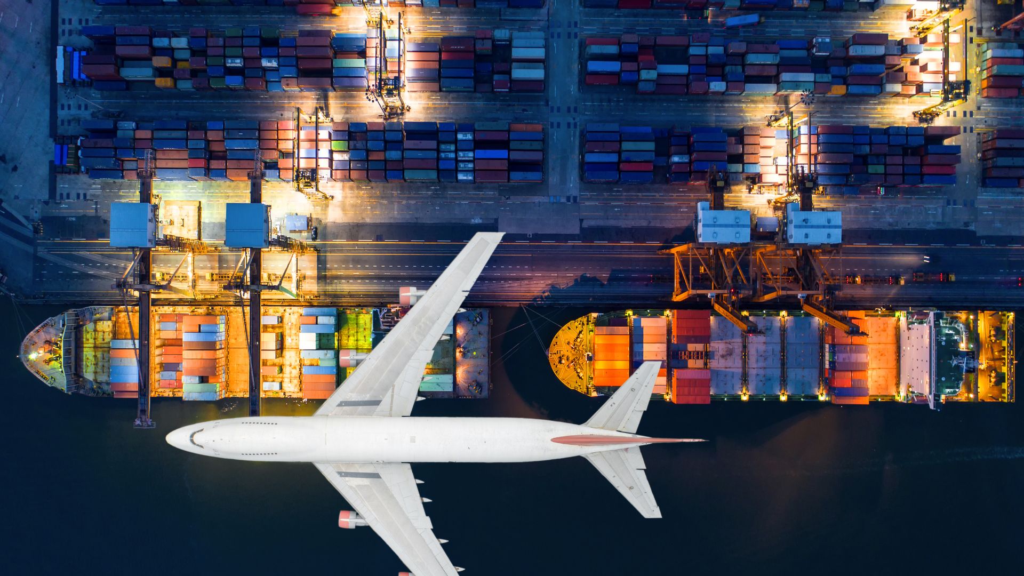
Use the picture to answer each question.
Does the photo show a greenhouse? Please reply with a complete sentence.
No, there isn't any greenhouse down there.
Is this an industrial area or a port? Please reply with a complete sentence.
It's a port.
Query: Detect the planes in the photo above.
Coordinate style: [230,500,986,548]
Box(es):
[167,232,706,576]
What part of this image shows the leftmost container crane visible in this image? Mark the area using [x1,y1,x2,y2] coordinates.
[92,142,237,429]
